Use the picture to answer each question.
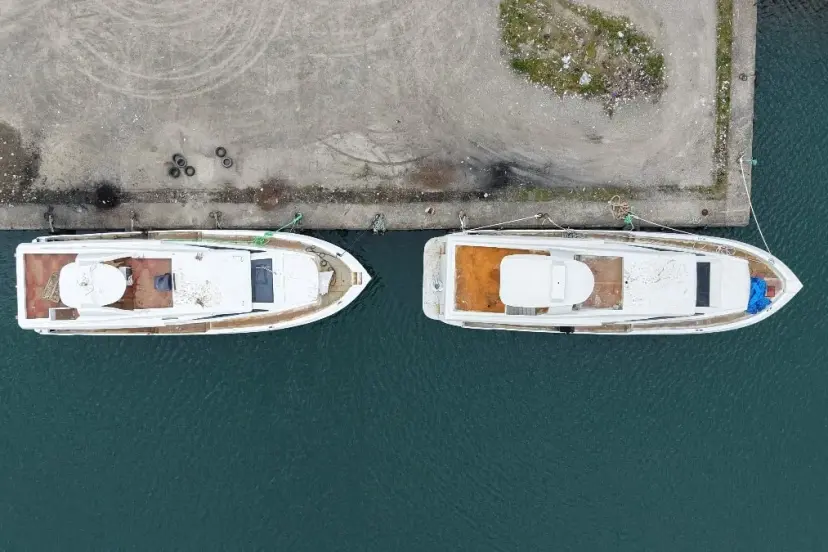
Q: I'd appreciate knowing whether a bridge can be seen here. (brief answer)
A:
No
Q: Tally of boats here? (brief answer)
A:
2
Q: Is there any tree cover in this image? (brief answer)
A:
No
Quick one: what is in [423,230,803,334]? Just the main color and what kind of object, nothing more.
white boat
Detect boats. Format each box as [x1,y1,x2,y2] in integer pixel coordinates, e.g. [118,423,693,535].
[13,230,372,335]
[423,230,803,334]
